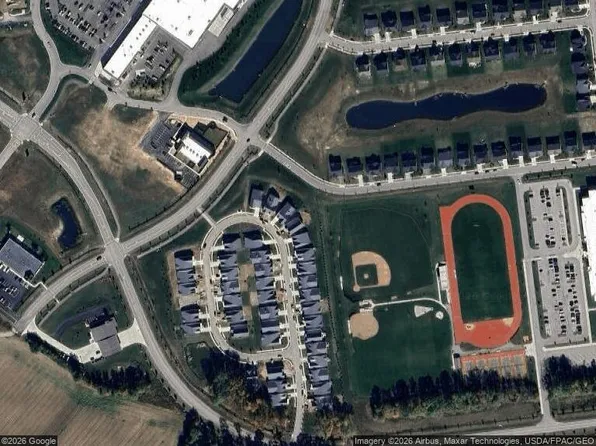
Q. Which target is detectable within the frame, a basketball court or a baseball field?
baseball field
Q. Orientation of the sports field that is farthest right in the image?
vertically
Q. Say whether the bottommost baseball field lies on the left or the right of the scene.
right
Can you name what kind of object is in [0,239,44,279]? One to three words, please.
building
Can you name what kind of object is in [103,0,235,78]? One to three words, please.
building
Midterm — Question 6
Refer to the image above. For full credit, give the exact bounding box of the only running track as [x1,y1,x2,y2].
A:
[439,194,521,347]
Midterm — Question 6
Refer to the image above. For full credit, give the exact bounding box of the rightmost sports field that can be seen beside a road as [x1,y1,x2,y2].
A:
[451,203,513,323]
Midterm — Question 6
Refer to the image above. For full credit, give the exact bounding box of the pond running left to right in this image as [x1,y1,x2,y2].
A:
[346,83,547,130]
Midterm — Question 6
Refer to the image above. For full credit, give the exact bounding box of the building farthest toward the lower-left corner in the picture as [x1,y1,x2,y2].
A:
[89,318,122,353]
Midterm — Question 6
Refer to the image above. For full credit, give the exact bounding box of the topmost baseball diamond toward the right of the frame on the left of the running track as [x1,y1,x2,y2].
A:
[340,207,432,300]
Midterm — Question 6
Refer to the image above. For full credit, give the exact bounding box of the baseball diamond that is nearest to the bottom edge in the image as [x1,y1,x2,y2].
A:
[346,310,452,388]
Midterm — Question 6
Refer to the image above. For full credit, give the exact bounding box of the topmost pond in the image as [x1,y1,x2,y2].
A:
[210,0,304,104]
